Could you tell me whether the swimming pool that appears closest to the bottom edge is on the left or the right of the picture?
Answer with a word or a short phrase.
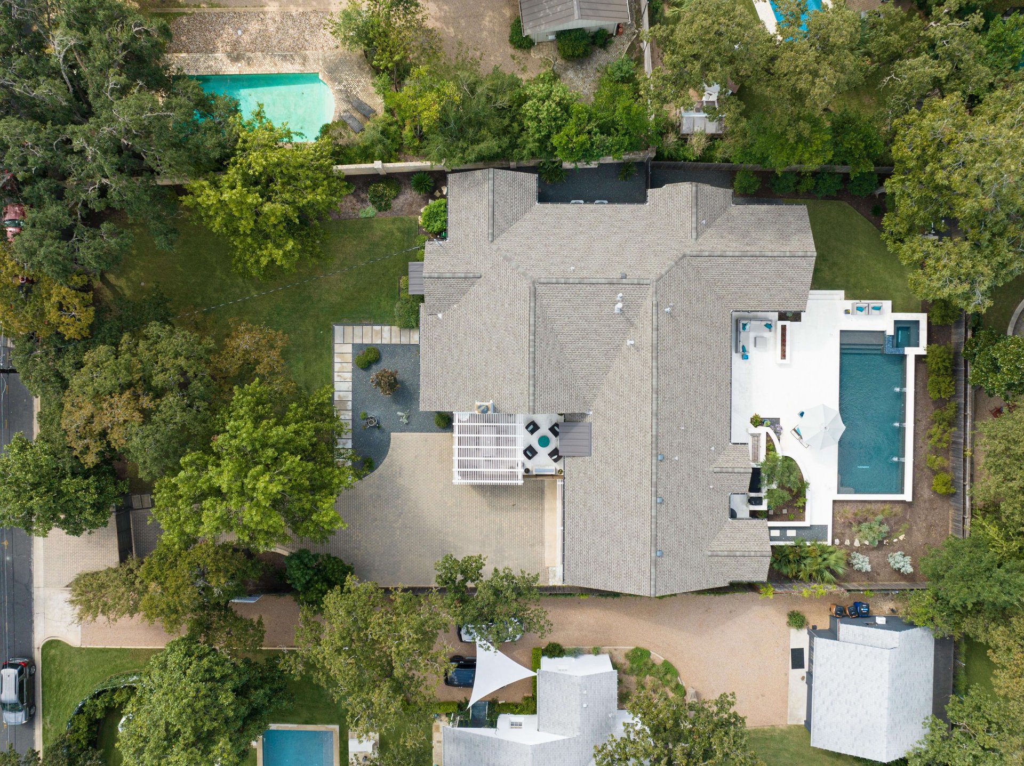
left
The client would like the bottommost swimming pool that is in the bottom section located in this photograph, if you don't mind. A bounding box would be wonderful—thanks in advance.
[256,724,339,766]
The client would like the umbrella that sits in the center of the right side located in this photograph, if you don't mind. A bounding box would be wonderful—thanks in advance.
[791,399,847,455]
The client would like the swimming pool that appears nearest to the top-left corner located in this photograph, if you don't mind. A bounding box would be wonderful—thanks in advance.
[174,73,334,142]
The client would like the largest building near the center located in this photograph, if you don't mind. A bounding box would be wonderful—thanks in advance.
[408,169,816,596]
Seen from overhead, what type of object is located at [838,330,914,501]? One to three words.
swimming pool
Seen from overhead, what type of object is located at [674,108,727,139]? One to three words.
greenhouse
